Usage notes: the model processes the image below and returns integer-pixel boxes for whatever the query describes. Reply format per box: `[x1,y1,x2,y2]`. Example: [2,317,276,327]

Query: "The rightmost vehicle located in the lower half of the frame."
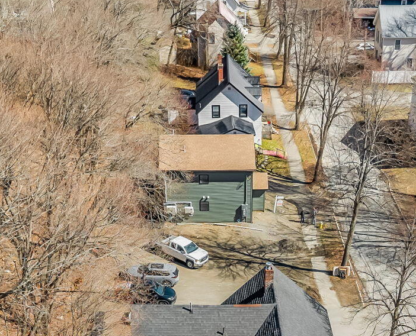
[154,228,211,269]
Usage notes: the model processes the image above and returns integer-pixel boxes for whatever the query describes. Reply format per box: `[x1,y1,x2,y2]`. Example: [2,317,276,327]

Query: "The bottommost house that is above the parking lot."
[159,131,268,222]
